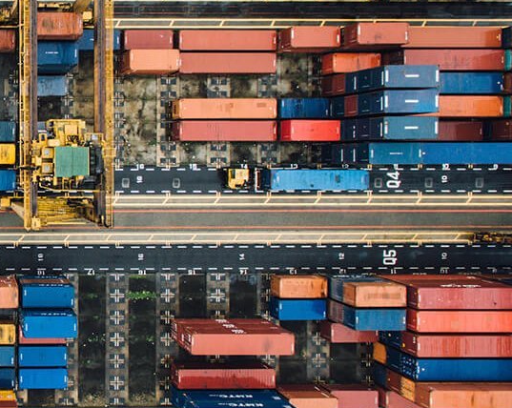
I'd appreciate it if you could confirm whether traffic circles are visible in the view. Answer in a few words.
No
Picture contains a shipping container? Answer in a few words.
Yes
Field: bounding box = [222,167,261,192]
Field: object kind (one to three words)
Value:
truck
